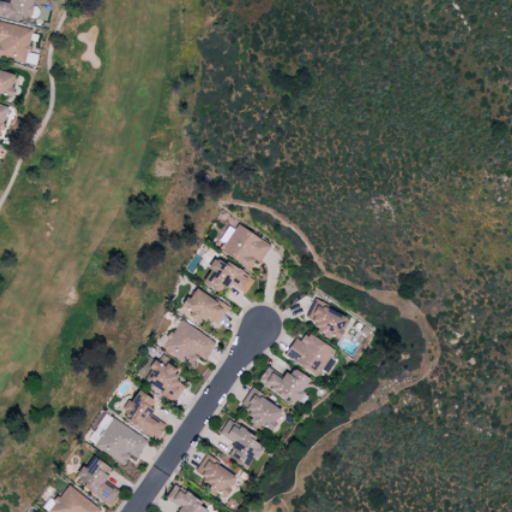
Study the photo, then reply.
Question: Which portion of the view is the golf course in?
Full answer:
You can find the golf course in the left area of the picture.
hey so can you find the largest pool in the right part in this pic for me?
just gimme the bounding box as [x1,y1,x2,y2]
[338,337,358,356]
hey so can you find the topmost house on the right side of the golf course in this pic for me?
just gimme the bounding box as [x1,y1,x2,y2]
[222,224,270,268]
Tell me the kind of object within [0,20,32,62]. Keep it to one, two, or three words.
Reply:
house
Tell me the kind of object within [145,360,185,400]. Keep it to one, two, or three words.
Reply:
house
